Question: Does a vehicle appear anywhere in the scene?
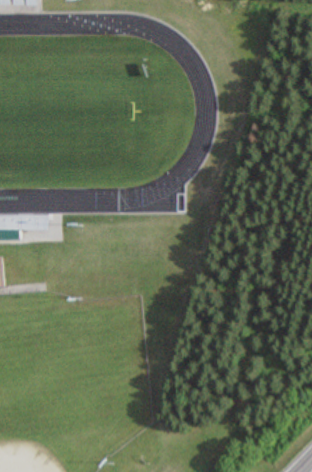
No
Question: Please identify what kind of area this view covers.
sports ground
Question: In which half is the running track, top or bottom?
top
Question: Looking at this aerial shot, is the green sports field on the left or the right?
left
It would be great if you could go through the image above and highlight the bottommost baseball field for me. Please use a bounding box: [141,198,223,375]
[0,441,63,472]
